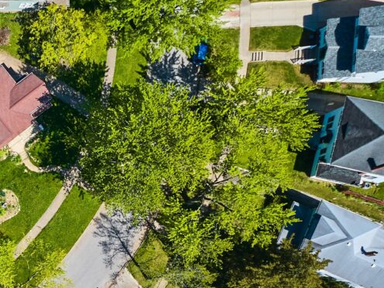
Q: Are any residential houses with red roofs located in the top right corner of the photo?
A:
No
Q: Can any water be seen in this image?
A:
No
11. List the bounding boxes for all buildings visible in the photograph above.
[275,201,384,288]
[304,96,384,189]
[0,65,52,151]
[0,0,71,13]
[288,5,384,86]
